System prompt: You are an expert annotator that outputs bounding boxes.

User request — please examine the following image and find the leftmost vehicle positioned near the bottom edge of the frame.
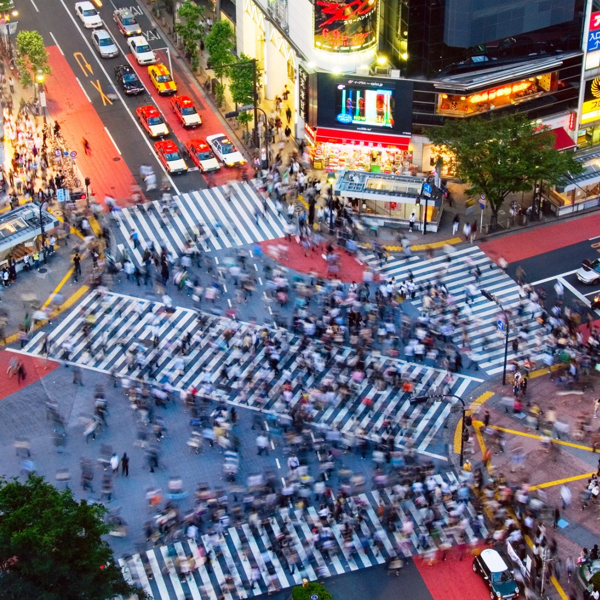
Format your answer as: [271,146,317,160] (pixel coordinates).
[471,542,522,599]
